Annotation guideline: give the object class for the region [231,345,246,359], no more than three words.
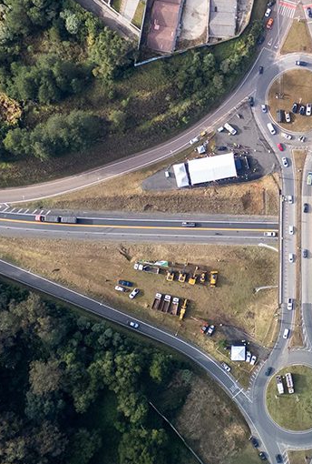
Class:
gazebo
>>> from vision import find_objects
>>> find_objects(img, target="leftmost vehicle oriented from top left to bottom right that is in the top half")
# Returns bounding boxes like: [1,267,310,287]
[224,121,237,135]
